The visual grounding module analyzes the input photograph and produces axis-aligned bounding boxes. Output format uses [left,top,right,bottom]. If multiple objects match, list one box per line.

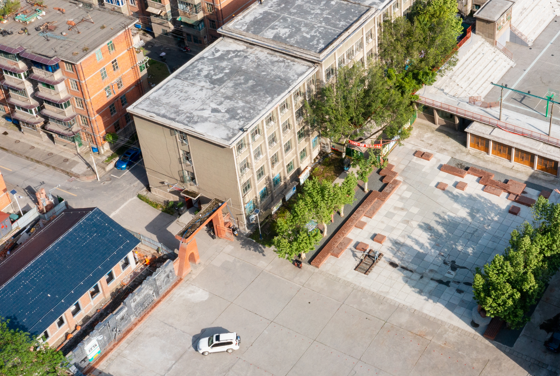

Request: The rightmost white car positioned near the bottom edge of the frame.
[197,330,242,357]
